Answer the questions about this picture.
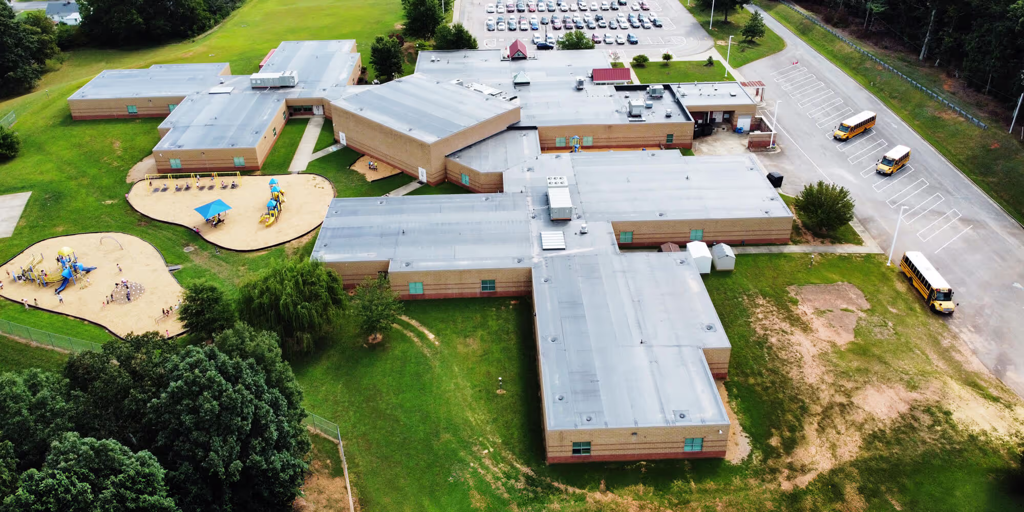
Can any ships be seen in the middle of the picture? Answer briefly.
No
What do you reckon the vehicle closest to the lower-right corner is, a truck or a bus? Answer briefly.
bus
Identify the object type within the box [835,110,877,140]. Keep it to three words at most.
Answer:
bus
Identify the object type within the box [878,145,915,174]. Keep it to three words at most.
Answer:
bus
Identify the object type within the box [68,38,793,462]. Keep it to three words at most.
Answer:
building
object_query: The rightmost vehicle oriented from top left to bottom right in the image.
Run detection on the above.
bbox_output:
[900,251,959,312]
